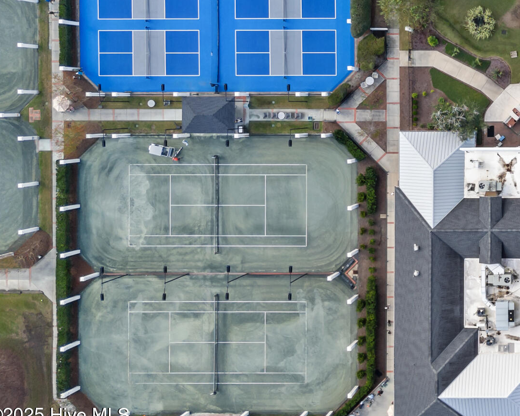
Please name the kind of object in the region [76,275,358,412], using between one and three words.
tennis court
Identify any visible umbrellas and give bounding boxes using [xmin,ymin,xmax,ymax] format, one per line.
[386,402,395,416]
[54,93,76,114]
